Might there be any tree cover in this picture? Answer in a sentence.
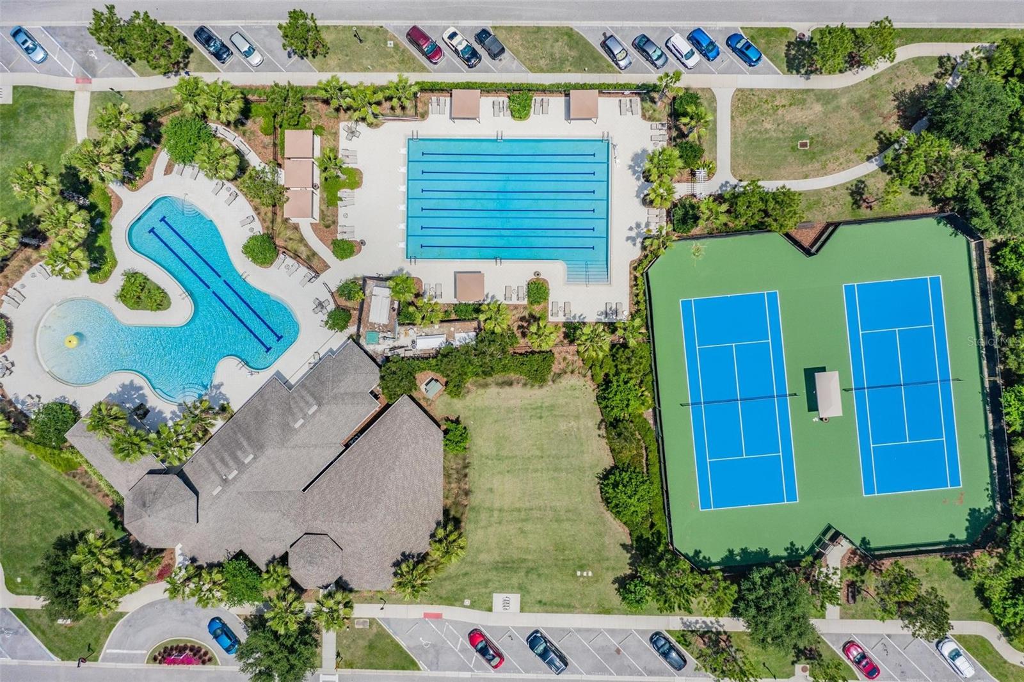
Yes, there is tree cover in the image.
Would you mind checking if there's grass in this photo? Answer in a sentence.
Yes, some grass is visible.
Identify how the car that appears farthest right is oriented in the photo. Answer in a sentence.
The car that appears farthest right is laid out on a diagonal.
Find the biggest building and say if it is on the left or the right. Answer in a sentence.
It is on the left.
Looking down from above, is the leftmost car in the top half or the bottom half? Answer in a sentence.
It is in the top half that the leftmost car appears.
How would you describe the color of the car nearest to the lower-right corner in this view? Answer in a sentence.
In this view, the car nearest to the lower-right corner is white.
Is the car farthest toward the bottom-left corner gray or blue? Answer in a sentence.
From above, the car farthest toward the bottom-left corner appears blue.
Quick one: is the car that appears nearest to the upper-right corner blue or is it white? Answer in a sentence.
The color of the car that appears nearest to the upper-right corner is blue.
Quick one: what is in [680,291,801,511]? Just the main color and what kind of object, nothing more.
blue tennis court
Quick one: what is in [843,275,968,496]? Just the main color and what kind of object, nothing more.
blue tennis court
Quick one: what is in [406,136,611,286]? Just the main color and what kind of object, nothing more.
blue swimming pool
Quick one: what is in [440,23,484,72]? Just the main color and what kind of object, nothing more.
white car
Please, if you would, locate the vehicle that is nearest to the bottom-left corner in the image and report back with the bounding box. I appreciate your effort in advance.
[206,613,242,656]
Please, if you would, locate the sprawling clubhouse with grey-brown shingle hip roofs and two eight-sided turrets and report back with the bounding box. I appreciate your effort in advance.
[70,339,444,590]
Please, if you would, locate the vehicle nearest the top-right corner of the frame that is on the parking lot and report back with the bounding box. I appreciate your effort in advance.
[723,30,765,71]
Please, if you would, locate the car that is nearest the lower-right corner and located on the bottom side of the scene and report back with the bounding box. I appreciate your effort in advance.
[932,633,978,681]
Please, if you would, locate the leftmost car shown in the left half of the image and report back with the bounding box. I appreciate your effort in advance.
[9,23,51,67]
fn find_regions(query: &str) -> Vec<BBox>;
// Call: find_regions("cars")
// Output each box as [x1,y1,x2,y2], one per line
[662,29,702,74]
[838,636,883,682]
[469,24,508,64]
[465,624,507,672]
[598,30,634,73]
[9,23,51,67]
[191,21,235,67]
[227,28,267,70]
[403,21,446,68]
[723,30,765,71]
[932,633,978,681]
[646,627,689,674]
[440,23,484,72]
[206,613,242,656]
[684,24,721,65]
[629,30,669,73]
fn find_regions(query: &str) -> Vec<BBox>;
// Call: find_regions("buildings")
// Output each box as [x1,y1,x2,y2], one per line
[70,339,444,590]
[369,285,392,323]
